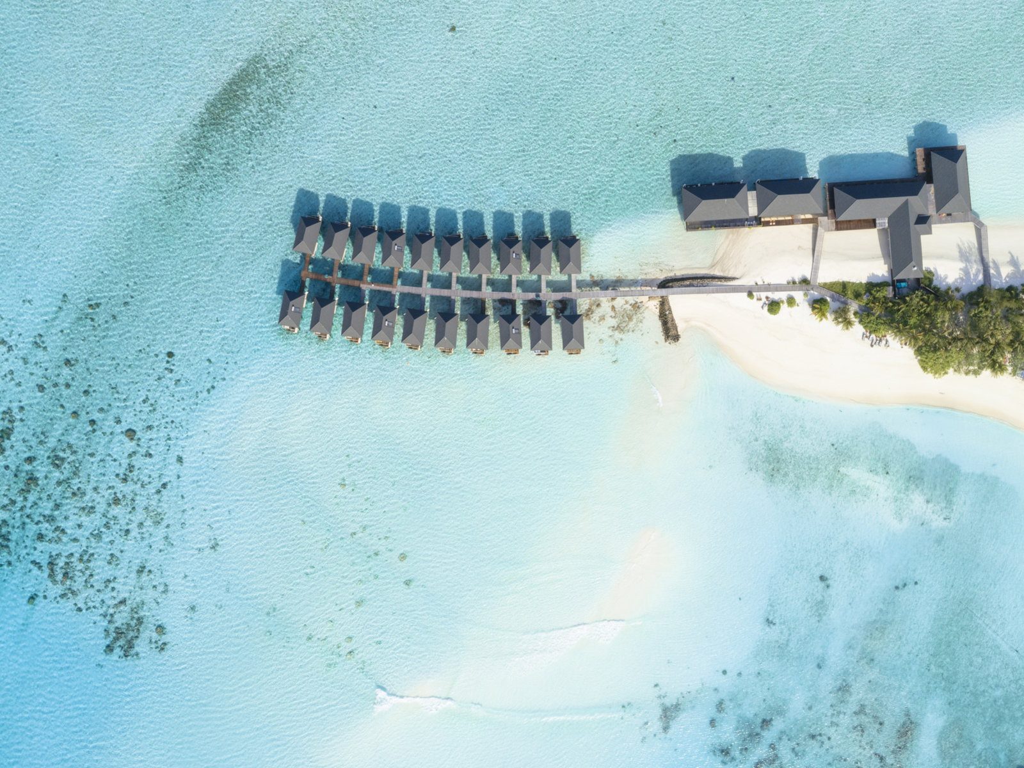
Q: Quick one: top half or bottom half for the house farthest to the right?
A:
top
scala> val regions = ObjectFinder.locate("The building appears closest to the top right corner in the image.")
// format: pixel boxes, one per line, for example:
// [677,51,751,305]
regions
[914,144,974,224]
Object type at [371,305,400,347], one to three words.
house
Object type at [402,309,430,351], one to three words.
house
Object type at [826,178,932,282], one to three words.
building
